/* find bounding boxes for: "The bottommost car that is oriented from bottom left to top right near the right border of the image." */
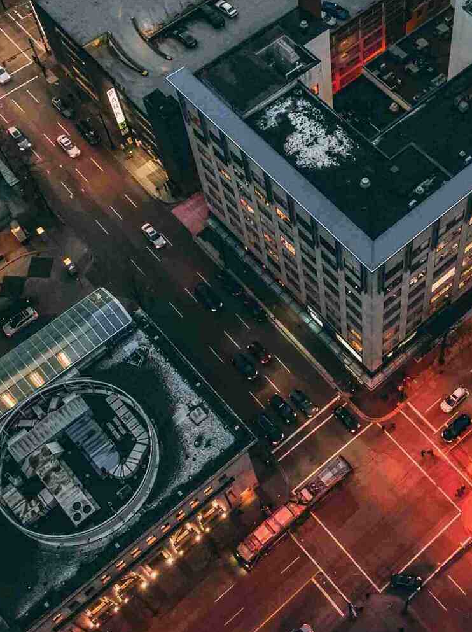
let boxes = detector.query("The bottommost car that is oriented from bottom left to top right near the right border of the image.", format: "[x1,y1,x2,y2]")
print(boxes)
[439,412,472,445]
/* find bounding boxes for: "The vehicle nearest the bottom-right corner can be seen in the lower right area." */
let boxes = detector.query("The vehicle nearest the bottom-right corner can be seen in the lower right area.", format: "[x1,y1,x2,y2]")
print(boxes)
[387,571,425,593]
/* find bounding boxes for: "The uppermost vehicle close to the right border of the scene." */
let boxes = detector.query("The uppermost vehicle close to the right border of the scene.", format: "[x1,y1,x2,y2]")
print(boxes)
[438,386,472,416]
